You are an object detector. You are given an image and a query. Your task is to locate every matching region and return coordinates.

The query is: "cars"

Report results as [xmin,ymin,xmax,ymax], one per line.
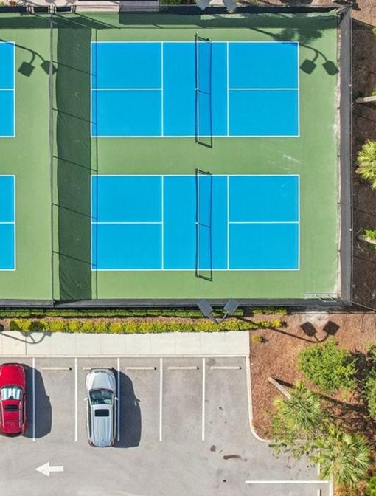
[83,367,121,446]
[0,361,30,436]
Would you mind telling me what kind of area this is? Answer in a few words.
sports ground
